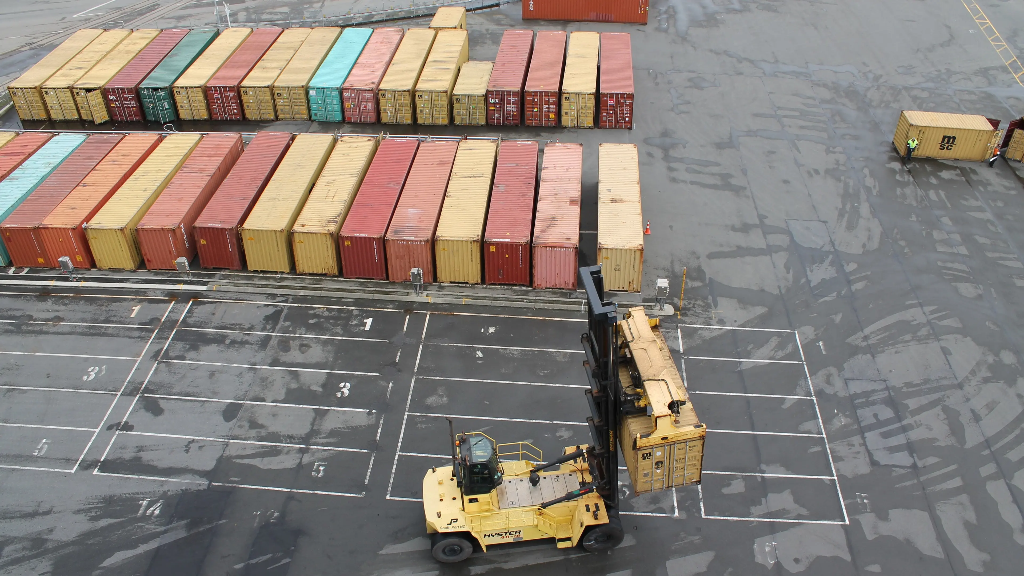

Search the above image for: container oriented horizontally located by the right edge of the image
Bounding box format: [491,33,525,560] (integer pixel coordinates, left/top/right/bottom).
[898,110,1002,162]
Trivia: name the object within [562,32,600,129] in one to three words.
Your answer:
shipping container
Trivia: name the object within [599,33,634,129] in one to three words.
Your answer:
shipping container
